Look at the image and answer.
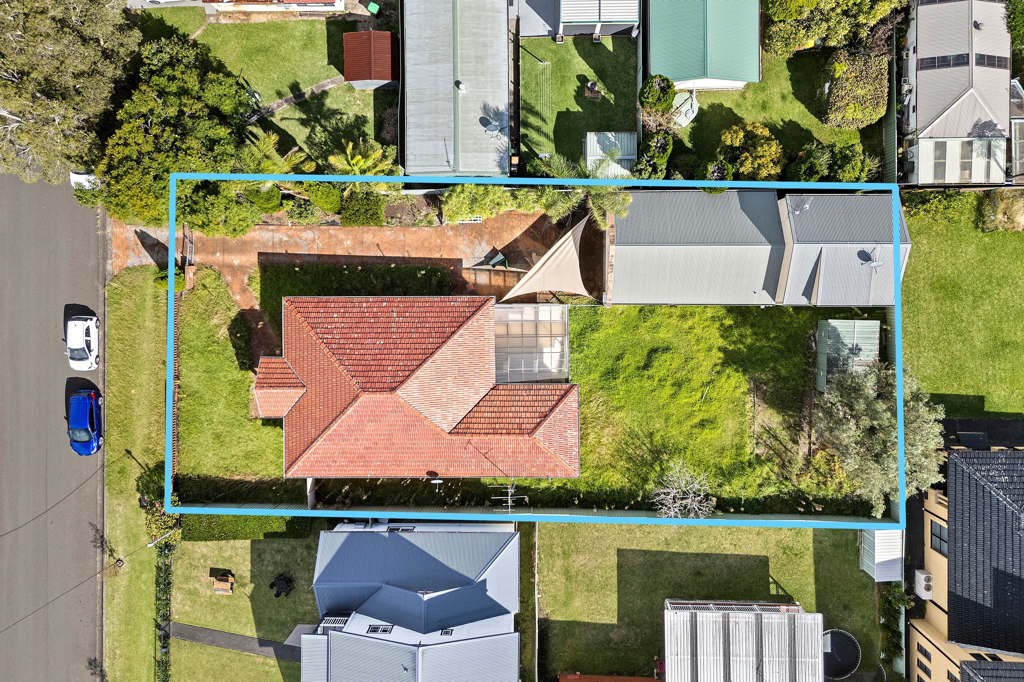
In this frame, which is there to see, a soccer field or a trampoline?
trampoline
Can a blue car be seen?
Yes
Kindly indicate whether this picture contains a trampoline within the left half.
No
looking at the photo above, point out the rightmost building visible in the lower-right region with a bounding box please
[914,446,1024,682]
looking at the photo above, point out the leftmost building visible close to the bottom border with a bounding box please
[299,523,524,682]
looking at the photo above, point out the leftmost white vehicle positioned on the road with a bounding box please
[61,318,98,373]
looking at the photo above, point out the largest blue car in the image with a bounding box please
[63,392,102,458]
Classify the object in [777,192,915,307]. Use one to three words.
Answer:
house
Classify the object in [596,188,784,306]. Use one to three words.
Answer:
building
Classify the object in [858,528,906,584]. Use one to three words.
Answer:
shed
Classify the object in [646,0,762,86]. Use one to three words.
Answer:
building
